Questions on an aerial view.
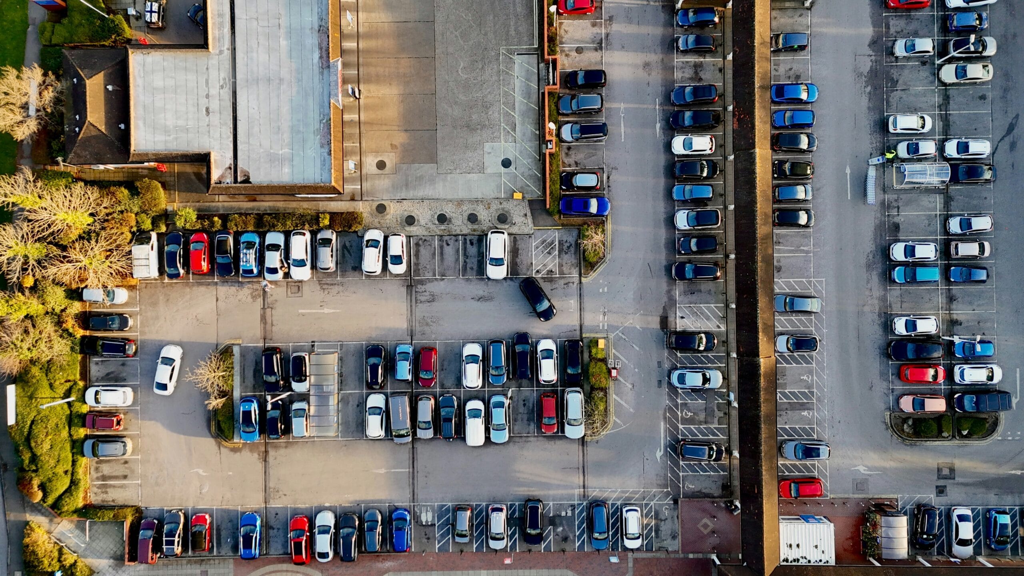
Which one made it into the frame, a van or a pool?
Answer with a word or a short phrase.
van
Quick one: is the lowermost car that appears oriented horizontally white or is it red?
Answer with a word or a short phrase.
red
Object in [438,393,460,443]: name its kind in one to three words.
truck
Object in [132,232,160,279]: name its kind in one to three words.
van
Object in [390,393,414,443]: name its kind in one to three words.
vehicle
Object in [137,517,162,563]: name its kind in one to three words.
car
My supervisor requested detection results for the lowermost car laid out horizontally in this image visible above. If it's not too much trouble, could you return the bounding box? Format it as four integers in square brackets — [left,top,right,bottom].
[778,477,823,499]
